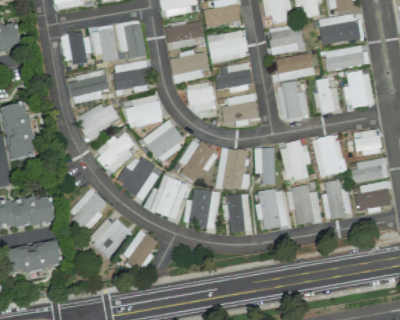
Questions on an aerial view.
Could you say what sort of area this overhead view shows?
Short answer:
residential area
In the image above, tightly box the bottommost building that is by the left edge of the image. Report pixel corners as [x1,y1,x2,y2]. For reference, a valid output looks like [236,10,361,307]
[10,242,62,272]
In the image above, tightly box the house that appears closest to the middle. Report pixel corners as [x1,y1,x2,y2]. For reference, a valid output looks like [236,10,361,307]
[181,140,222,188]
